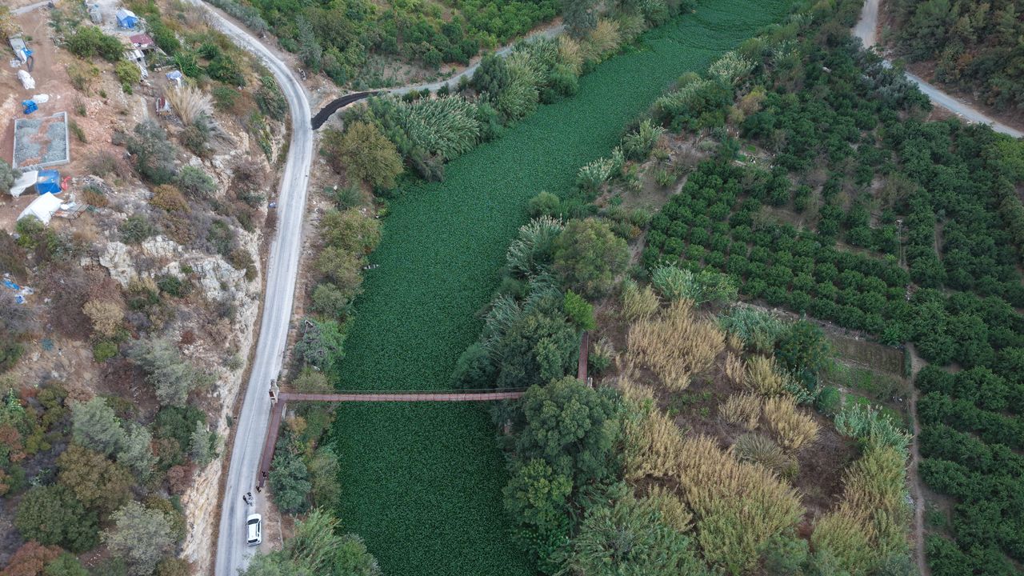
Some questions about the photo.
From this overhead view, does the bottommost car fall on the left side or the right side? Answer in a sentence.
The bottommost car sits on the left side.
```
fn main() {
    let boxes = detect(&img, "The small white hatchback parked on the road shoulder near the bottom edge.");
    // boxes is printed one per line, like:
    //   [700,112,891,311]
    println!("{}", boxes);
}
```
[244,513,265,548]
